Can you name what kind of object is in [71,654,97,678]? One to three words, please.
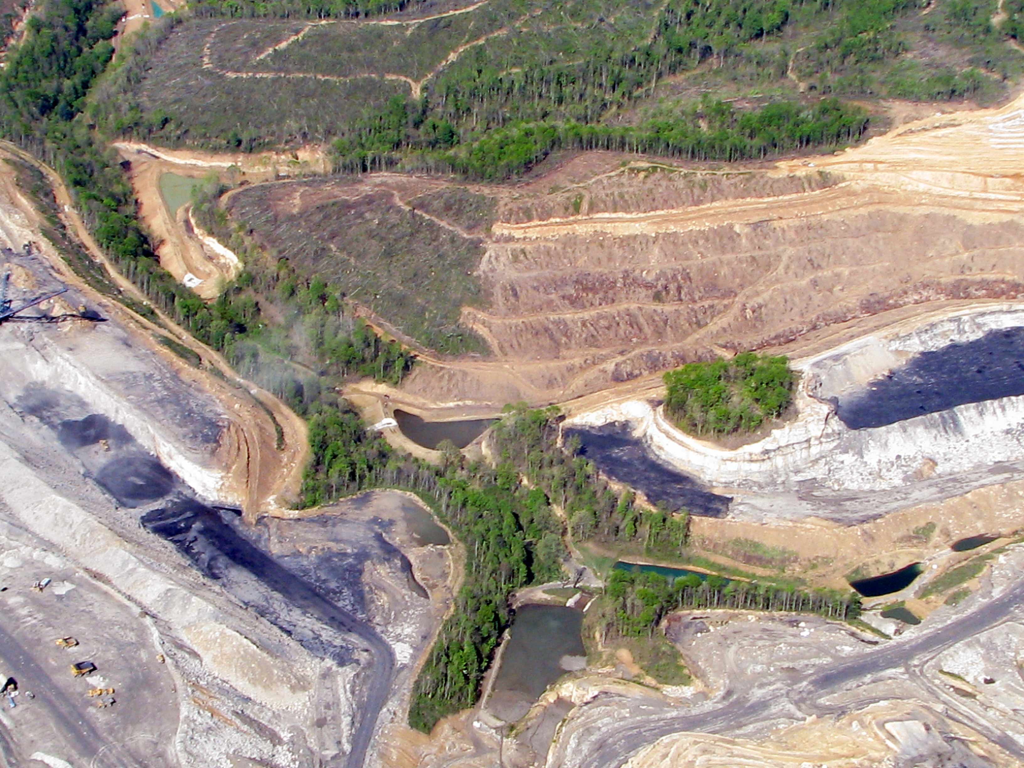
truck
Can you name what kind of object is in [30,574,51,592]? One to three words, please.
vehicle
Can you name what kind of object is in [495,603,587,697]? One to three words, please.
pond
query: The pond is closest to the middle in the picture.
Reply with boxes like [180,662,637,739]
[394,409,499,449]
